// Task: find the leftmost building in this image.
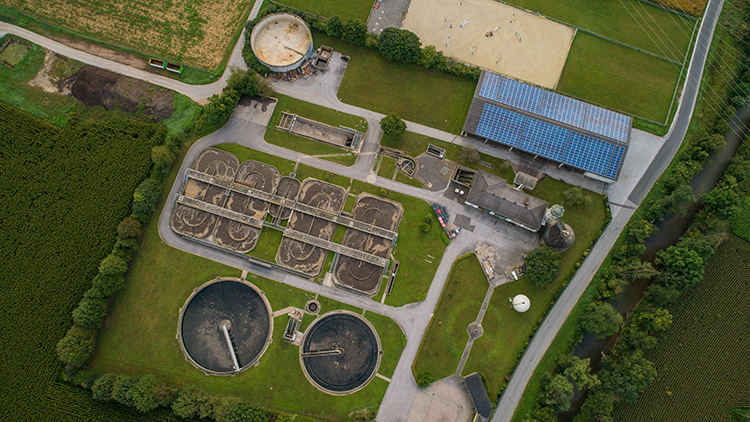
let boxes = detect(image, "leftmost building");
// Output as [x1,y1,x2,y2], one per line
[282,310,300,344]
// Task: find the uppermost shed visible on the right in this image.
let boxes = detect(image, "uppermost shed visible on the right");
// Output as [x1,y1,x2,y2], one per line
[513,171,538,192]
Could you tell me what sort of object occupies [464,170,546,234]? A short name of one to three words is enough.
building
